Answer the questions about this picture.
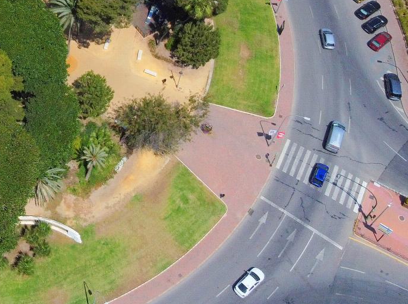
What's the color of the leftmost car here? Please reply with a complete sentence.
The leftmost car is white.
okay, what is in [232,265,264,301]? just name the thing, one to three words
car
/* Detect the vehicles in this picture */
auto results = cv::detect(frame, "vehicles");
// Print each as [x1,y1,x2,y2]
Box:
[308,159,330,193]
[359,14,389,35]
[381,73,403,102]
[324,121,347,156]
[318,26,336,53]
[354,0,382,20]
[232,265,264,301]
[365,31,396,52]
